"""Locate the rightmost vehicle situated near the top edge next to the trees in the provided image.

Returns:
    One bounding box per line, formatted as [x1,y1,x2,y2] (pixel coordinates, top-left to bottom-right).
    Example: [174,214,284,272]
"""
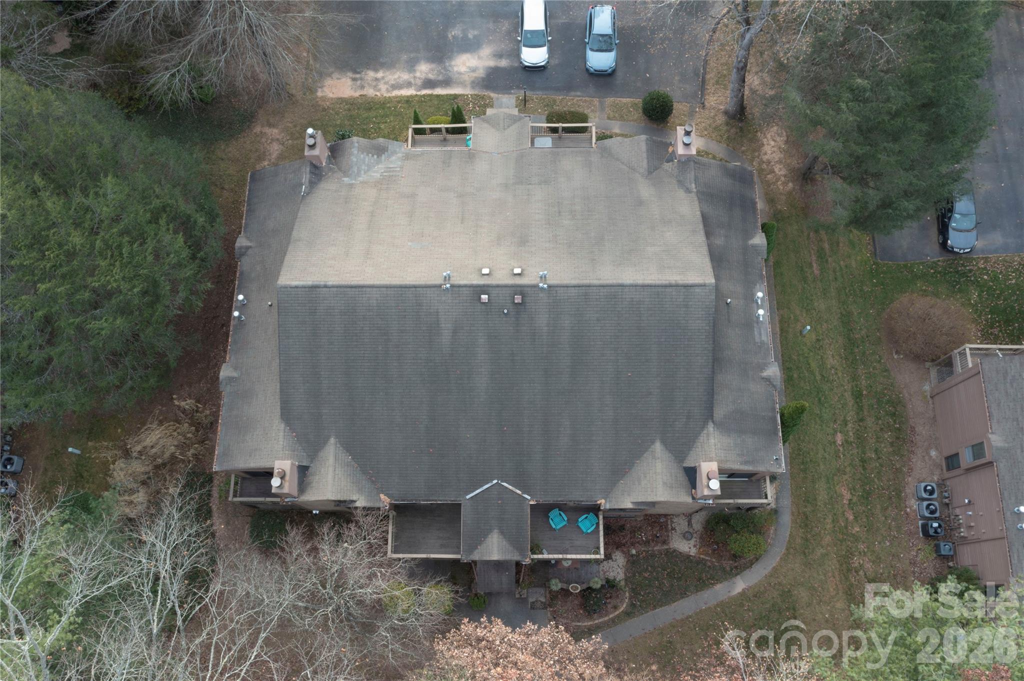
[583,3,620,78]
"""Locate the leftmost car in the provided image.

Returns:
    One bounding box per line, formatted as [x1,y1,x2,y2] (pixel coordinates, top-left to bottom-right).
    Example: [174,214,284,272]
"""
[516,0,553,73]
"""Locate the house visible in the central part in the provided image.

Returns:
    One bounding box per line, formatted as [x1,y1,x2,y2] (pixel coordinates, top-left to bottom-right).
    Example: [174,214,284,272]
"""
[212,111,788,581]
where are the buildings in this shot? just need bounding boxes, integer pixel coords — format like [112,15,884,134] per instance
[925,324,1024,681]
[212,111,788,581]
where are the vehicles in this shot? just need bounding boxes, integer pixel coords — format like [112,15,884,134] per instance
[516,0,553,73]
[583,3,620,78]
[932,174,983,255]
